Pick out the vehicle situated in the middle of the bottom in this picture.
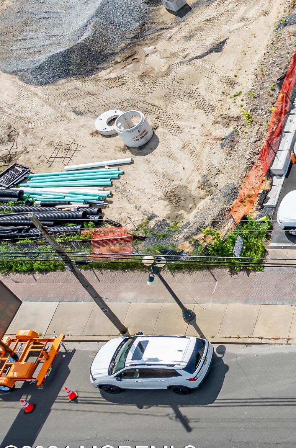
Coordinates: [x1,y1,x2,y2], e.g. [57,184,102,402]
[85,336,211,399]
